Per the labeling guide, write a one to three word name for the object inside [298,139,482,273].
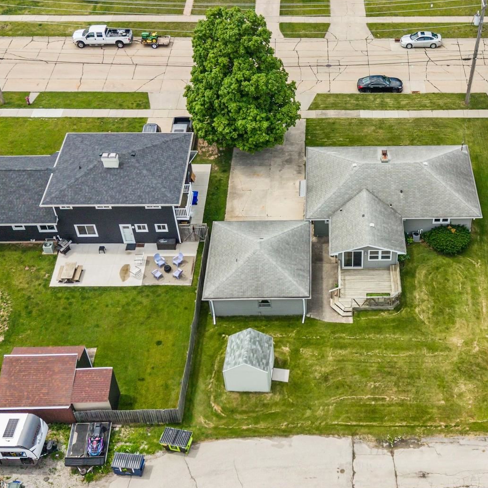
house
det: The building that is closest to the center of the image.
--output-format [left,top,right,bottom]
[201,220,312,323]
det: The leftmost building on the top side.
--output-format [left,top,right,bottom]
[0,132,206,244]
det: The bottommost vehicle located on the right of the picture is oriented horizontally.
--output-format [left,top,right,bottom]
[357,71,404,91]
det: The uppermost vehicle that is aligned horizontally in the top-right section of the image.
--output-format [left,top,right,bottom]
[399,28,443,46]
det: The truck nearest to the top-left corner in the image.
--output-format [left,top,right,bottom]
[69,22,132,45]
